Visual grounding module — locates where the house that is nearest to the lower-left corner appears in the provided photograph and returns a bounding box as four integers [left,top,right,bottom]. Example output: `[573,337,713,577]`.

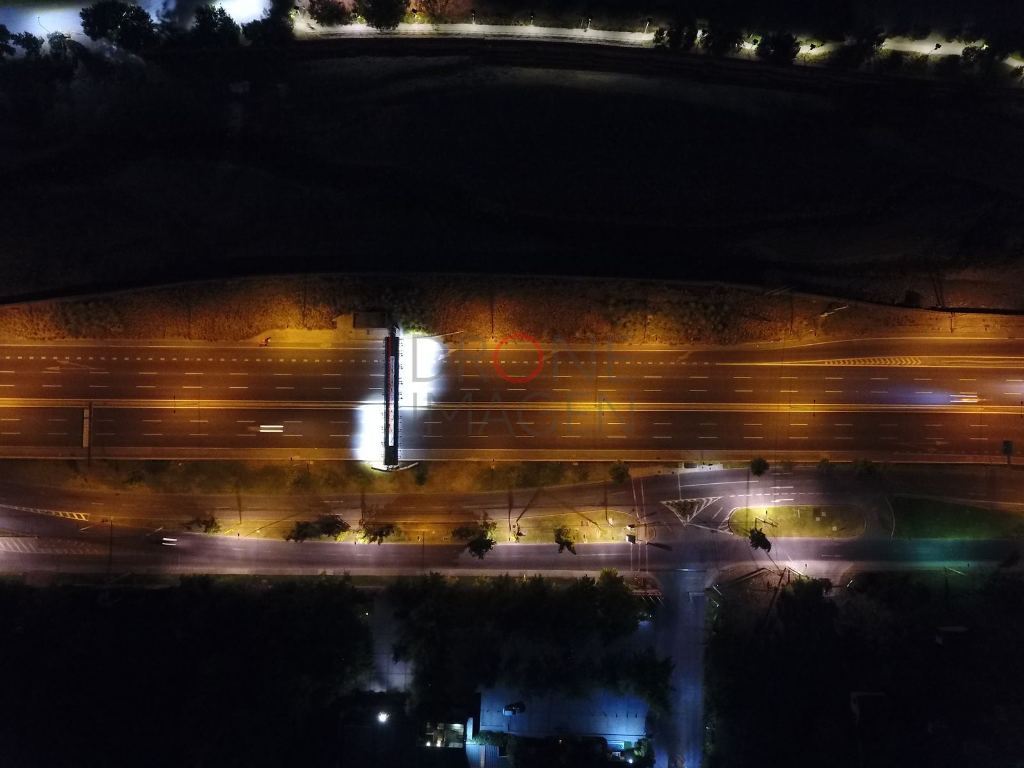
[340,705,424,768]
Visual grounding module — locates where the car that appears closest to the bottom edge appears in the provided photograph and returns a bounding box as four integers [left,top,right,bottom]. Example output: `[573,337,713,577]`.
[504,702,525,717]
